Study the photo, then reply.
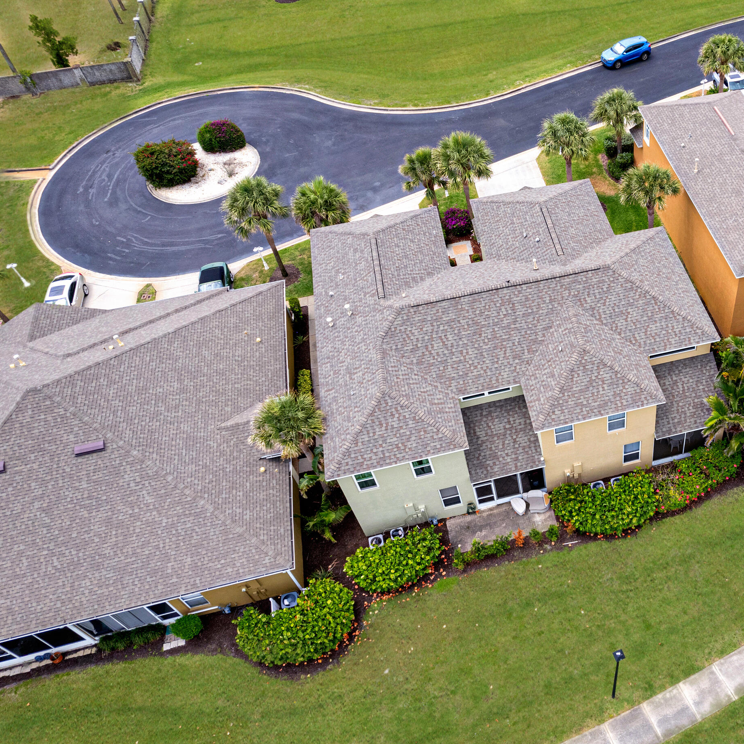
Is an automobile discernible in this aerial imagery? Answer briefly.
Yes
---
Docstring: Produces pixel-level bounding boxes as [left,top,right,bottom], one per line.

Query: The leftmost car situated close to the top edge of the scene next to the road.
[599,33,655,69]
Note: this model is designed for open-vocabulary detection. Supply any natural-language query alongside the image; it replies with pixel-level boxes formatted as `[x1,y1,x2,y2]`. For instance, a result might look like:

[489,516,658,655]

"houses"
[627,88,744,336]
[0,277,314,665]
[308,176,733,536]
